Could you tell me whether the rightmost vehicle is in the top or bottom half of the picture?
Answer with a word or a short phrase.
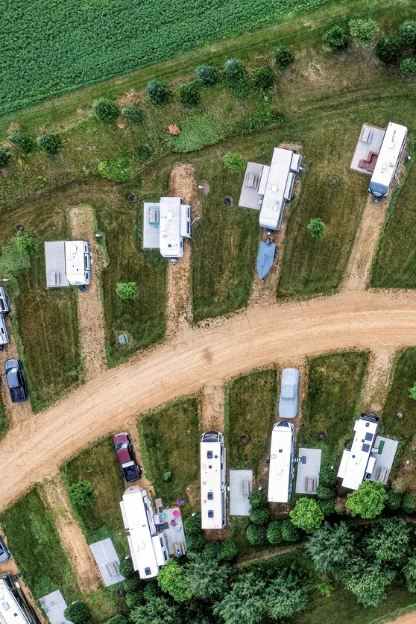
top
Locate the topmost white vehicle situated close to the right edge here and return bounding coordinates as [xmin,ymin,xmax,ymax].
[367,122,409,205]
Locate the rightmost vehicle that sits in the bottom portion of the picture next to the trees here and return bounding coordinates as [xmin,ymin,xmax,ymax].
[337,405,380,488]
